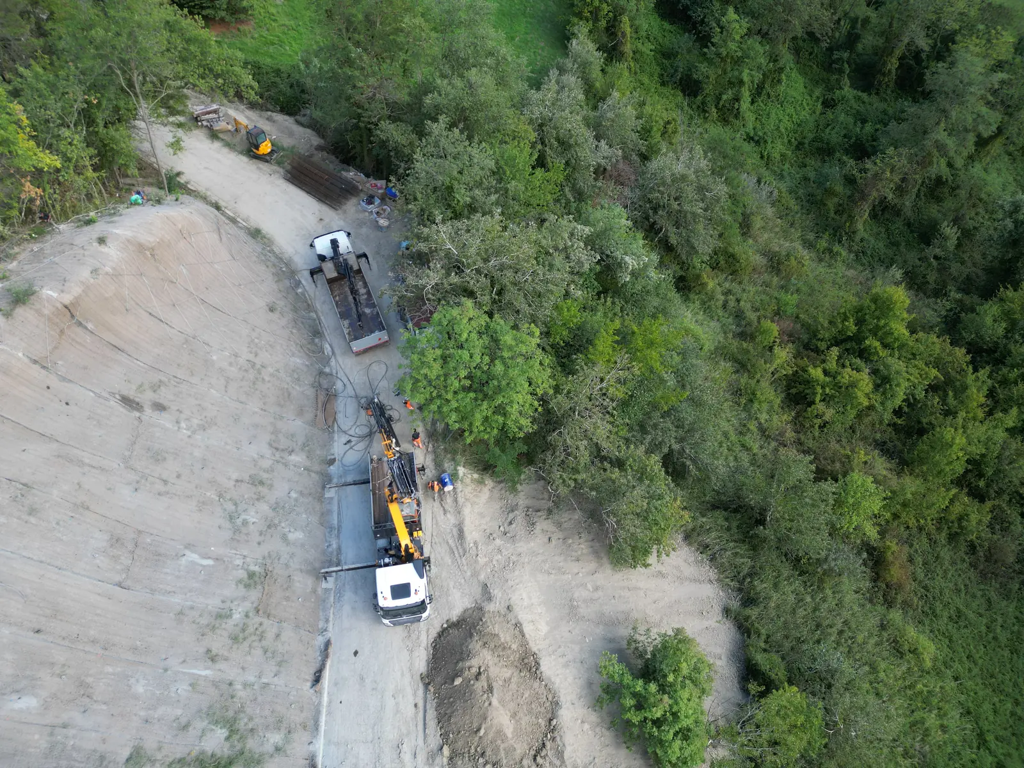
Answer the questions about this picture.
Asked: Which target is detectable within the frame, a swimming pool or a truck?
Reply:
truck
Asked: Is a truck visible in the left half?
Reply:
Yes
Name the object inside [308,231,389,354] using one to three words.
truck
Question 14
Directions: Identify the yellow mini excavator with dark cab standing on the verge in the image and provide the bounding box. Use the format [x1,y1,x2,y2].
[236,111,288,168]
